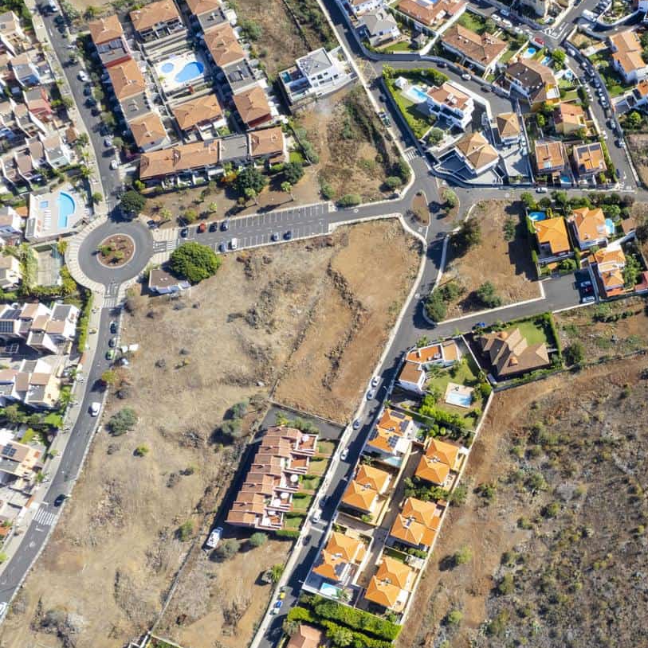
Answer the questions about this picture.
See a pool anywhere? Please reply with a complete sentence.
Yes, I can see a pool in this picture.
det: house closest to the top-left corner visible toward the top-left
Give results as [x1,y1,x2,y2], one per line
[0,10,37,50]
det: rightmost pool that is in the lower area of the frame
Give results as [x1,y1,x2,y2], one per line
[444,383,476,408]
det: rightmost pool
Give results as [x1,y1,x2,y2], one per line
[605,216,619,237]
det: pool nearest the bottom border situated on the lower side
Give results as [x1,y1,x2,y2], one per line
[317,580,348,607]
